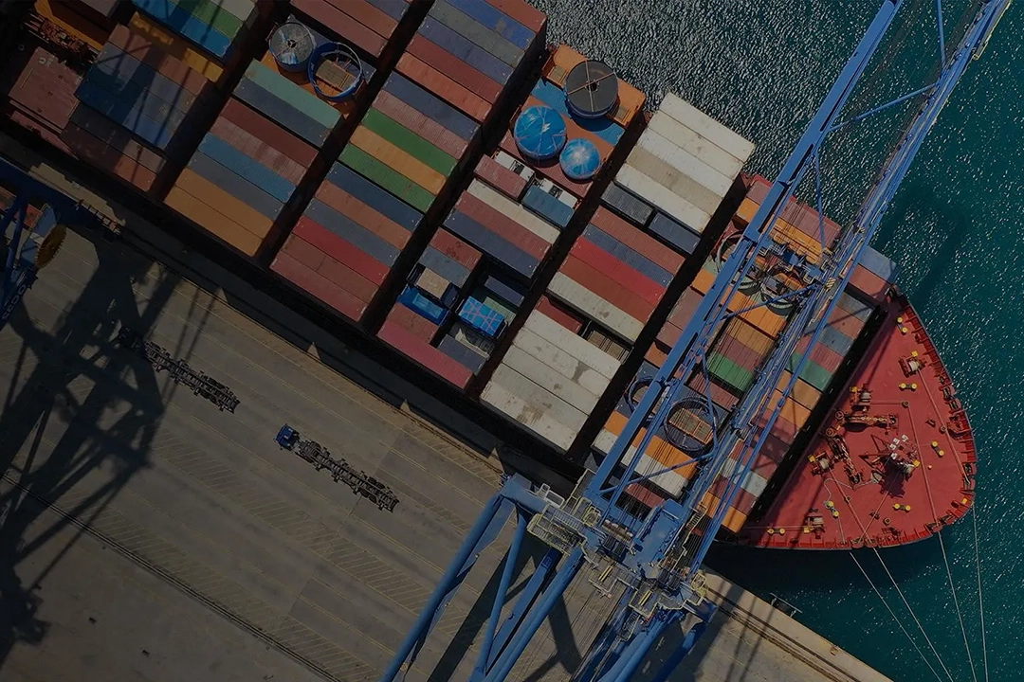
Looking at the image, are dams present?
No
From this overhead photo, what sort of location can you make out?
port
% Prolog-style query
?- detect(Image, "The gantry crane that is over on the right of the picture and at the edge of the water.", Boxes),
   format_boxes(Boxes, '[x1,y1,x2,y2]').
[381,0,1017,682]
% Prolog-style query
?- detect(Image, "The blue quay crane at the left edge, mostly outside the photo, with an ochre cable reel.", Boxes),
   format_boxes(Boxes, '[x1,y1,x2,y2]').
[0,151,157,329]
